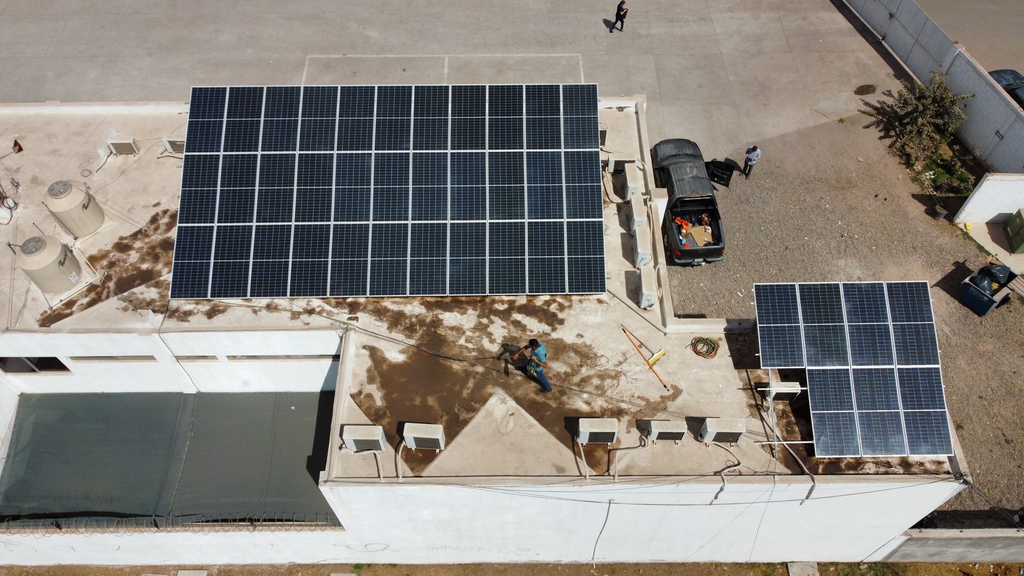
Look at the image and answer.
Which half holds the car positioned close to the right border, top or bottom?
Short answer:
top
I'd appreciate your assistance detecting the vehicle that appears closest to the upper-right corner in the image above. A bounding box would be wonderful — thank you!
[991,73,1024,114]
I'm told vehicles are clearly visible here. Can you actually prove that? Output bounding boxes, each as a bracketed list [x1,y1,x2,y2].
[991,73,1024,114]
[652,140,739,269]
